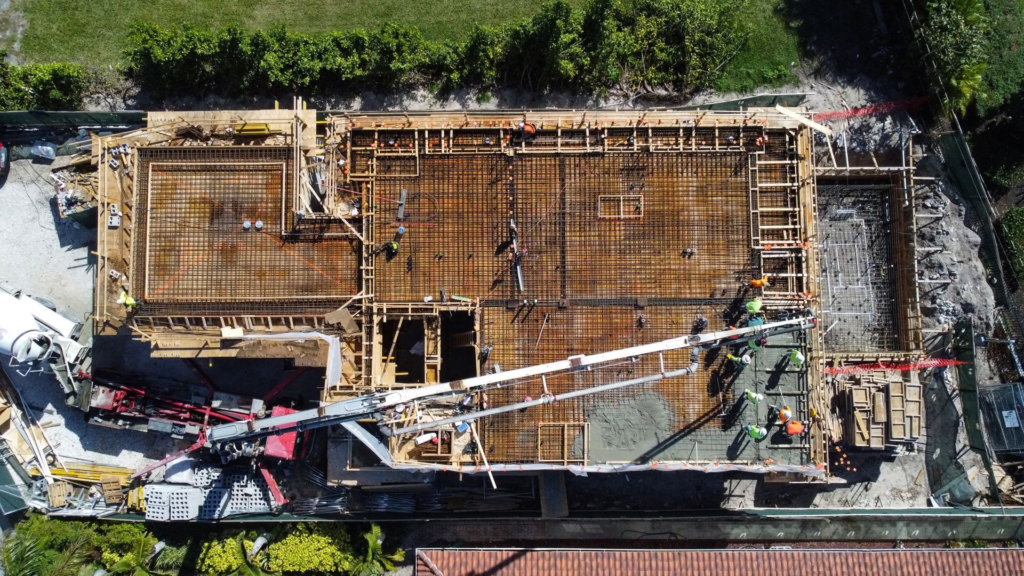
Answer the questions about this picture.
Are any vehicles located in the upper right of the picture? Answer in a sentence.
No, looking in the upper right of the picture, there is no vehicle.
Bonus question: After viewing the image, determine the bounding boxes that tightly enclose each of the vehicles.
[0,142,12,181]
[65,358,322,506]
[0,277,95,398]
